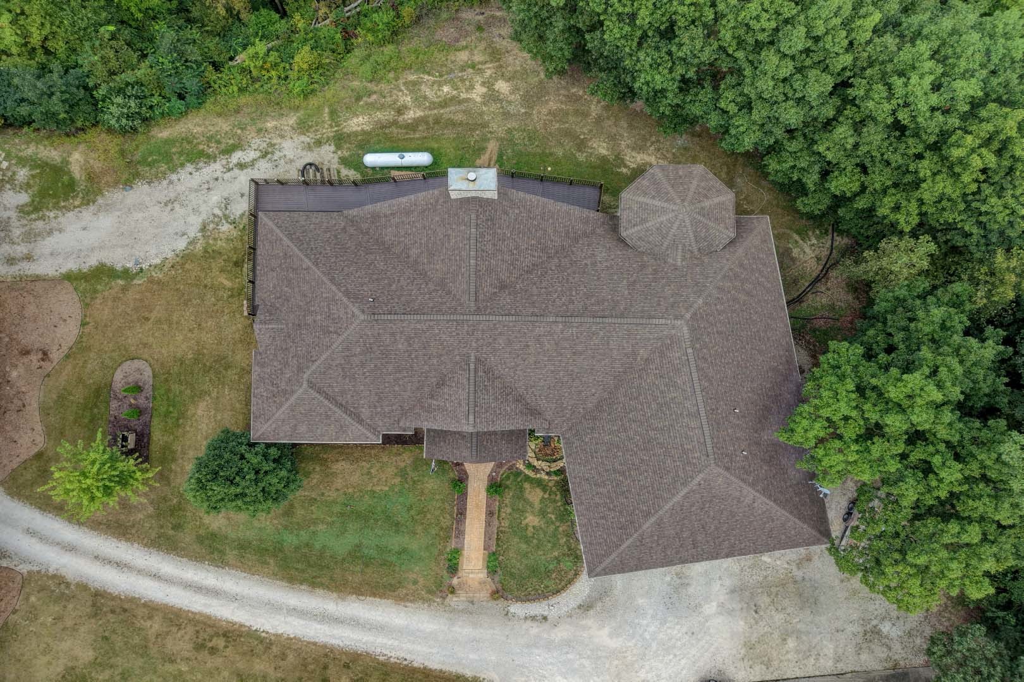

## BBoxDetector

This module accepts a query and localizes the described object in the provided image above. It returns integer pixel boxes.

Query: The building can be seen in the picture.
[250,164,831,578]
